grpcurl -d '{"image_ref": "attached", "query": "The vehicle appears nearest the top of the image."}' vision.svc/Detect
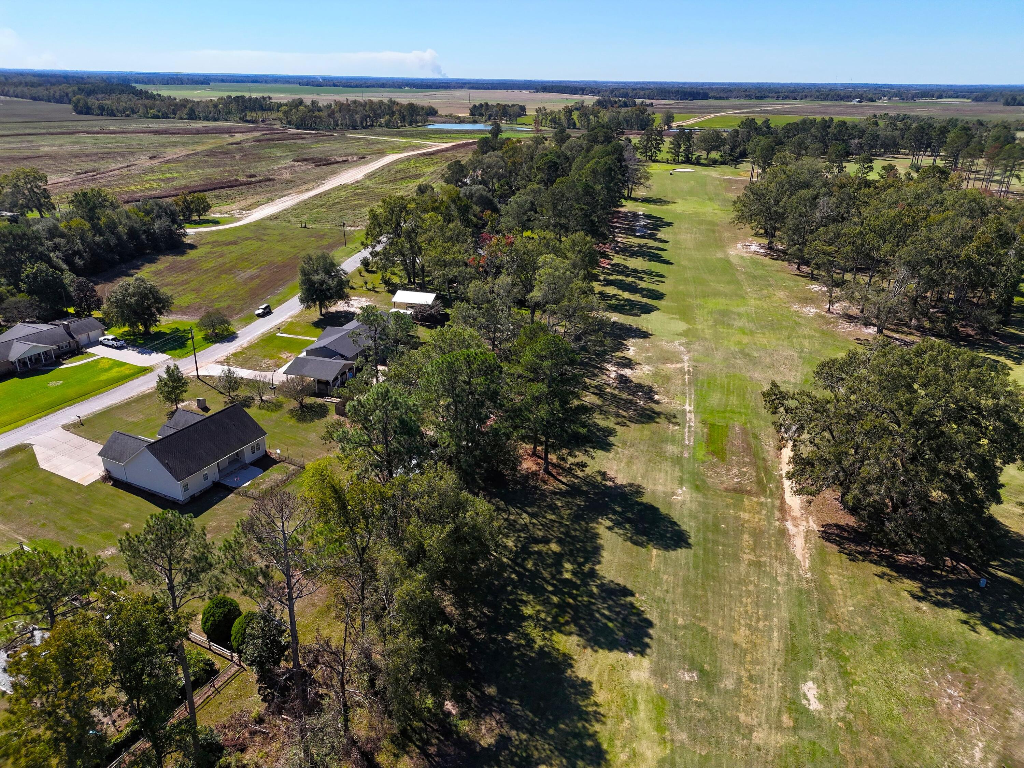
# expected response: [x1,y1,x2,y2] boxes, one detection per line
[254,303,273,316]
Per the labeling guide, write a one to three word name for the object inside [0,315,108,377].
house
